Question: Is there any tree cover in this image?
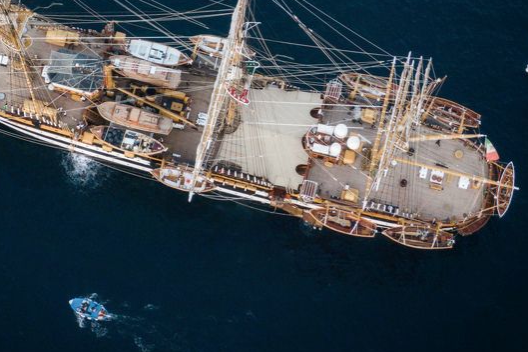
No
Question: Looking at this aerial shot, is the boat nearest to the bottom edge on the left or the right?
left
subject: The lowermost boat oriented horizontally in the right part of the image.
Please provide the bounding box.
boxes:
[384,226,456,251]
